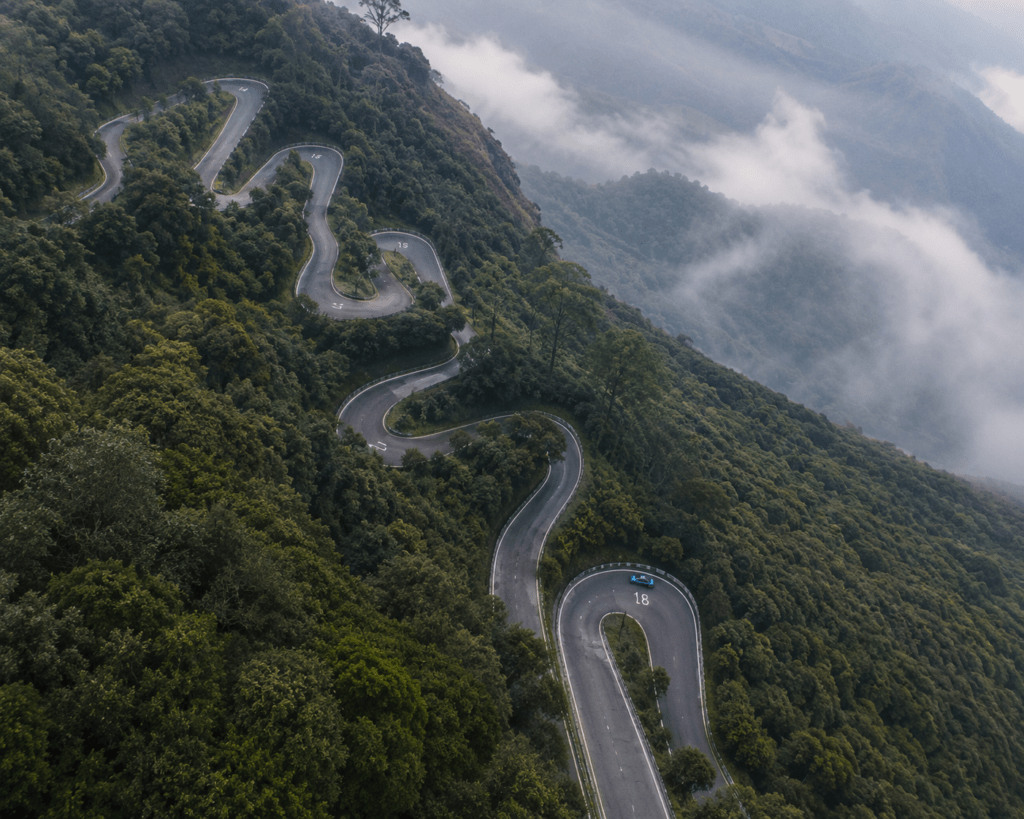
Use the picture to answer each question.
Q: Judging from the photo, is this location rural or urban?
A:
rural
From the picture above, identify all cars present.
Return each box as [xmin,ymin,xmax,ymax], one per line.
[633,572,654,587]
